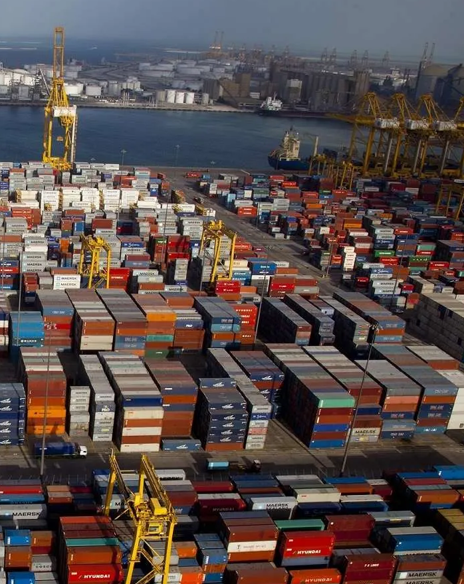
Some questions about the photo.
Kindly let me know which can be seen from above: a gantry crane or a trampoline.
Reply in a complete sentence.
Looking from above, you can make out a gantry crane.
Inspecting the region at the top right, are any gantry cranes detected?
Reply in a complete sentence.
Yes, looking at the top right, one can make out a gantry crane.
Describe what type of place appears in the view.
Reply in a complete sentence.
This image shows an industrial area.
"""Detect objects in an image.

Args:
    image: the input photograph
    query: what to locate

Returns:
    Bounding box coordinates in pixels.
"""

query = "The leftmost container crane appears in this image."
[41,28,81,167]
